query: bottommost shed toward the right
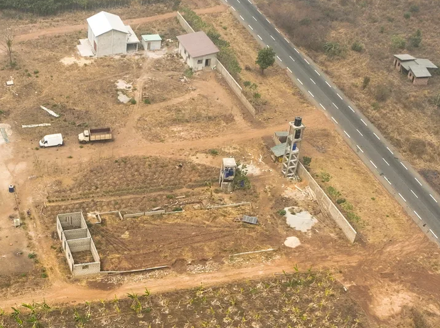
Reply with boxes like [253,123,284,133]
[271,131,292,164]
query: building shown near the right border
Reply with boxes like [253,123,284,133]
[393,54,437,87]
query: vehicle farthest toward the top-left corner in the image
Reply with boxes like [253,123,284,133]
[40,132,63,147]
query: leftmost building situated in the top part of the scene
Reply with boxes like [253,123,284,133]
[76,11,138,56]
